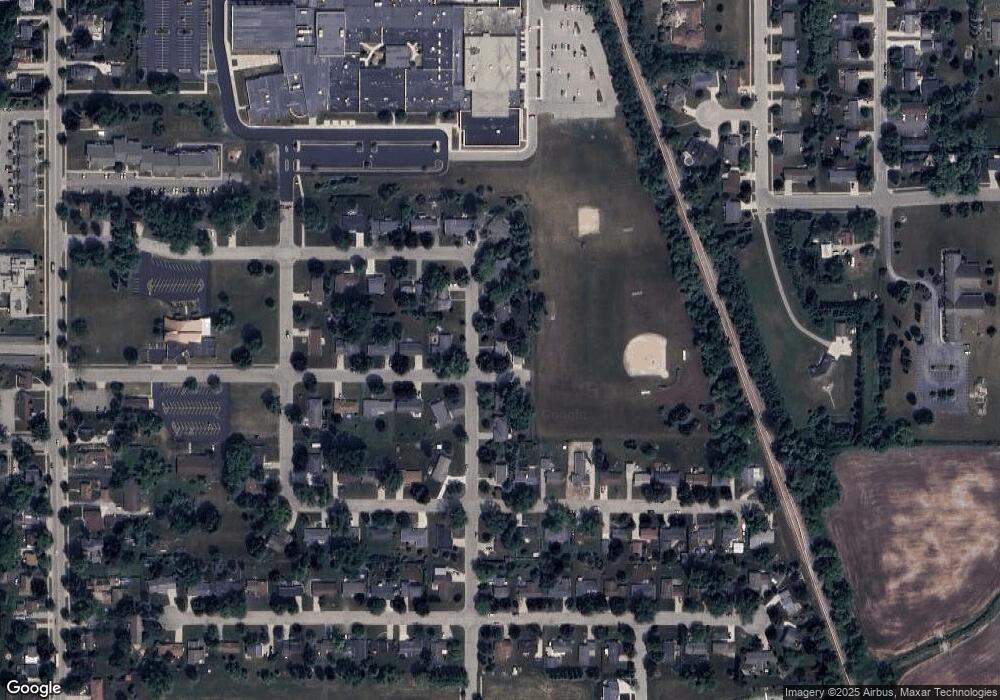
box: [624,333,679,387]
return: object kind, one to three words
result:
baseball field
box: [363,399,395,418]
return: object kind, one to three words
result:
house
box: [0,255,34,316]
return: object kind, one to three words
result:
building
